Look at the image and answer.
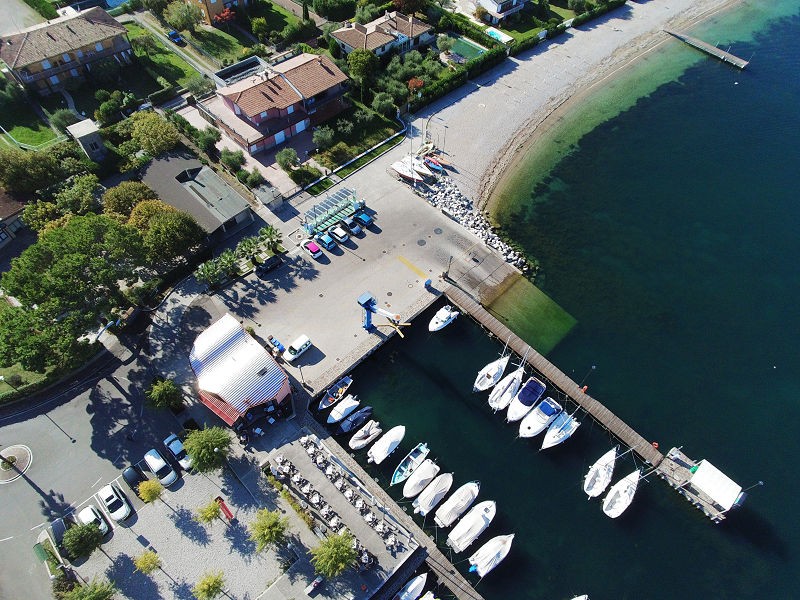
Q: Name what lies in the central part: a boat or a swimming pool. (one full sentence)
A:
The feature located in the central part is a boat.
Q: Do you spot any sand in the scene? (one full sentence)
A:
Yes, there is sand in the image.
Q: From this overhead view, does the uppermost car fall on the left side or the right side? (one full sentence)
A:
The uppermost car is on the left side of the image.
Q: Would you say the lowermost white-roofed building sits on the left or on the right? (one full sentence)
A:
The lowermost white-roofed building sits on the left side.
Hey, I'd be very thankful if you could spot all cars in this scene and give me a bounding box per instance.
[280,331,312,363]
[45,514,80,552]
[327,223,353,247]
[96,481,134,523]
[351,209,377,231]
[162,432,195,470]
[338,215,364,240]
[118,462,155,503]
[164,27,185,47]
[299,238,325,262]
[142,448,179,487]
[75,500,112,537]
[314,231,340,255]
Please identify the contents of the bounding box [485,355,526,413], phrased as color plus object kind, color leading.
white boat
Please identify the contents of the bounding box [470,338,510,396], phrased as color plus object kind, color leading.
white boat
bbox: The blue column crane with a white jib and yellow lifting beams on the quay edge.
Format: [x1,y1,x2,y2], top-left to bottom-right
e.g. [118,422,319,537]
[358,291,412,338]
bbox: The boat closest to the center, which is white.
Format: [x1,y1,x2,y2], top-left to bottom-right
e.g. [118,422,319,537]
[430,303,462,330]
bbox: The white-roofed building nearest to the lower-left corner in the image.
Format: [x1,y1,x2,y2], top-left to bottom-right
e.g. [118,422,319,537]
[188,312,290,435]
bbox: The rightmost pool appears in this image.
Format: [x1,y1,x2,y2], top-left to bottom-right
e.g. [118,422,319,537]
[477,21,519,48]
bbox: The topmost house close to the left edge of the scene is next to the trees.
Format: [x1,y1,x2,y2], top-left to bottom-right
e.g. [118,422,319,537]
[0,3,136,102]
